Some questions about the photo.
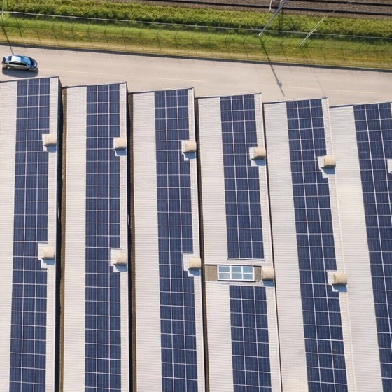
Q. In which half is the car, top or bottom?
top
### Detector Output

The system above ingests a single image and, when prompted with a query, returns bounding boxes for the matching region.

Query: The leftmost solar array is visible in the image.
[8,80,50,392]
